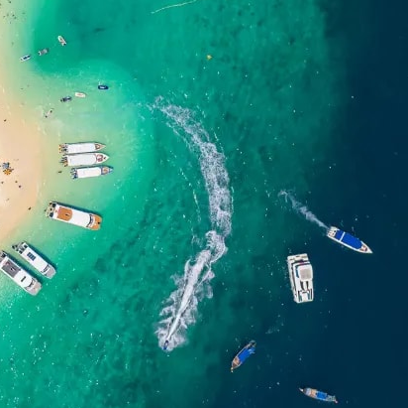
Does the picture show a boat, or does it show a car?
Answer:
boat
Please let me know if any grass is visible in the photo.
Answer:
No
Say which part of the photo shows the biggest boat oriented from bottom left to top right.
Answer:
bottom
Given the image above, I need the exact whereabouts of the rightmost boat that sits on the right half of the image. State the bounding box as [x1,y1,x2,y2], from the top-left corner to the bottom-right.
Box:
[323,224,373,253]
